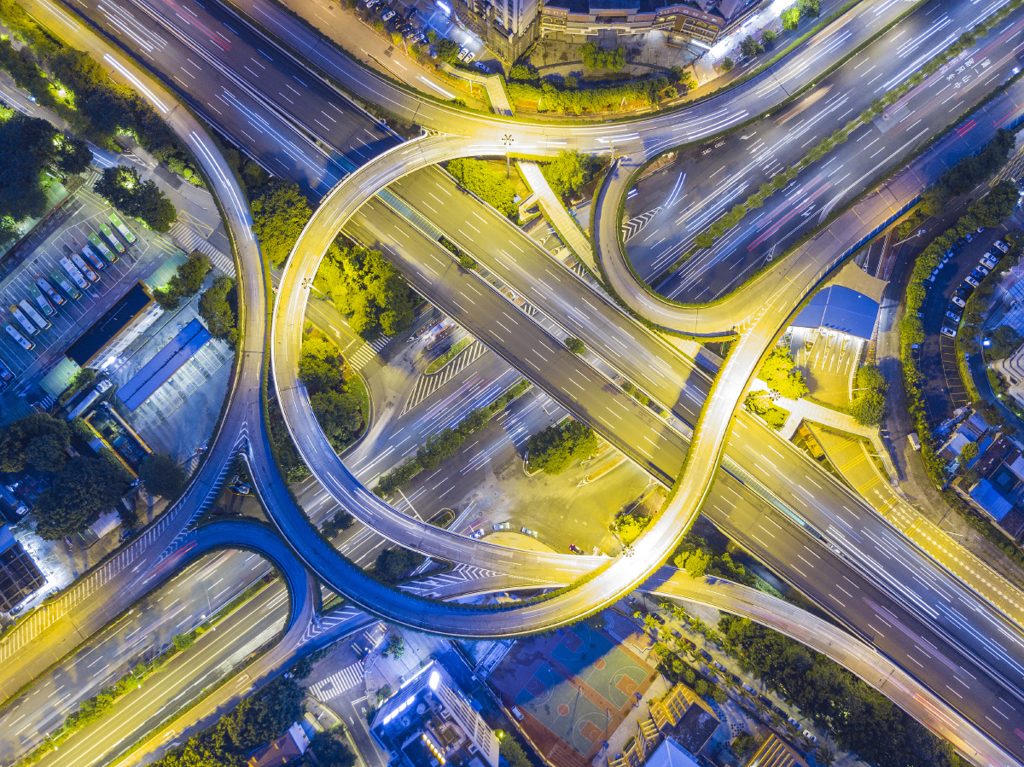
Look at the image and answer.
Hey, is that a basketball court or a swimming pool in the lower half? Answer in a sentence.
Looking in the lower half, you will find a basketball court.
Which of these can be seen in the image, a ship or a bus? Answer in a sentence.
I can see a bus in this picture.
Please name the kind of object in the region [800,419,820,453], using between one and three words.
vehicle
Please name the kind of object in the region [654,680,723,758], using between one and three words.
building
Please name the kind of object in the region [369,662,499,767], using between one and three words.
building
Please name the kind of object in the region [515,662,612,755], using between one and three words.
basketball court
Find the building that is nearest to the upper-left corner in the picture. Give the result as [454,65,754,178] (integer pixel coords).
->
[63,281,158,368]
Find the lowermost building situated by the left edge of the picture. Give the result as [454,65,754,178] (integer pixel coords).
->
[0,538,59,622]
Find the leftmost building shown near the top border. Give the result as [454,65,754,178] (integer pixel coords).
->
[474,0,546,64]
